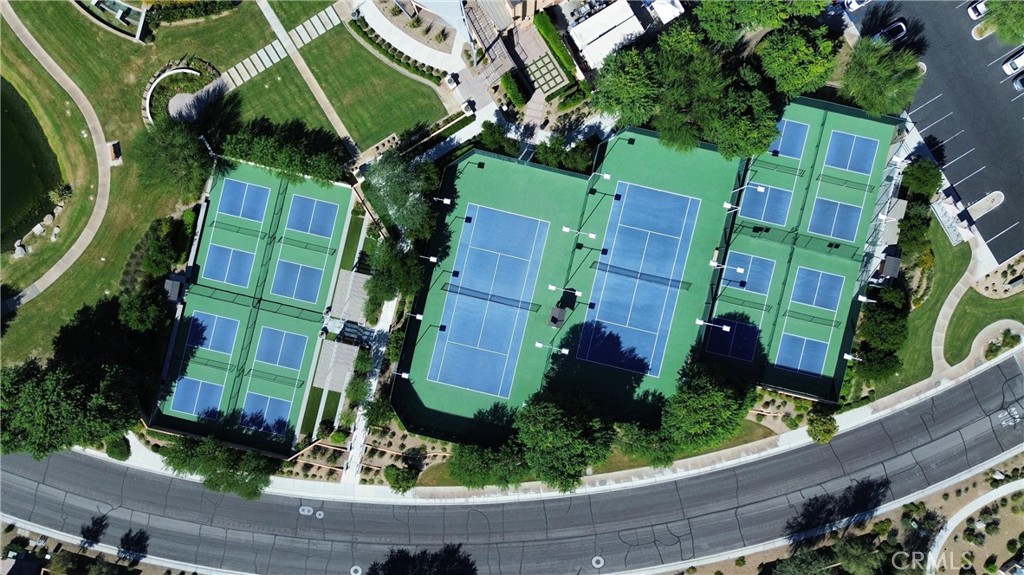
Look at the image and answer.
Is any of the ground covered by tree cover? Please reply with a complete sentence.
Yes, there is tree cover in the image.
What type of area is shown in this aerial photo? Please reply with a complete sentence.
The picture captures a sports ground.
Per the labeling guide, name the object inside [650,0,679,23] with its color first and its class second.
white umbrella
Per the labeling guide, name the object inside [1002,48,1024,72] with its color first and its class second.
white car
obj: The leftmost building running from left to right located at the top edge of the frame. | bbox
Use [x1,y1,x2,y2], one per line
[481,0,579,42]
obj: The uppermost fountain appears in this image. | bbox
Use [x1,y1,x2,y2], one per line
[68,0,147,46]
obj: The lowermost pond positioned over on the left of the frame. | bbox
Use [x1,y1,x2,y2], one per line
[0,75,61,250]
